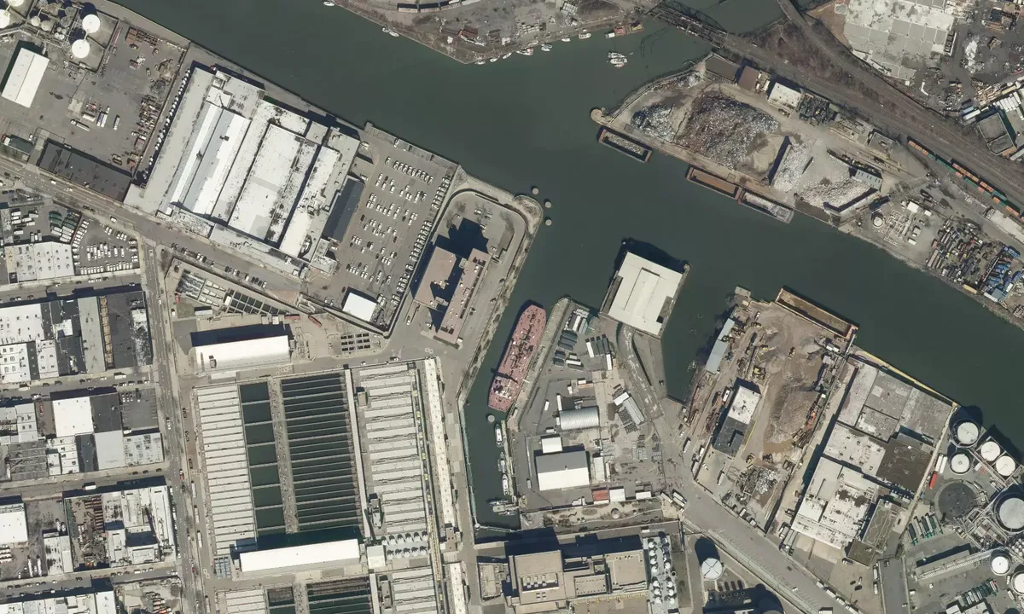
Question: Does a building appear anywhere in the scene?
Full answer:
Yes, I can see a building in this picture.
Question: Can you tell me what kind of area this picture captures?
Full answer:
This looks like a port.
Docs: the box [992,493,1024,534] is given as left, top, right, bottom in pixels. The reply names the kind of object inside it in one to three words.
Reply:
storage tank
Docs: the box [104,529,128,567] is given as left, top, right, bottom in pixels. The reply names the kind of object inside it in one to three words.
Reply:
building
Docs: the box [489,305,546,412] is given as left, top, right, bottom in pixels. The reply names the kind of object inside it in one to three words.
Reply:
ship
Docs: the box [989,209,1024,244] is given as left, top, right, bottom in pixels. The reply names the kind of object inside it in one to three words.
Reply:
shed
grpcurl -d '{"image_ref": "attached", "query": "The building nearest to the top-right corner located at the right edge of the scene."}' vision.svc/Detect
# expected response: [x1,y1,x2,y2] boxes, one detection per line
[977,113,1016,156]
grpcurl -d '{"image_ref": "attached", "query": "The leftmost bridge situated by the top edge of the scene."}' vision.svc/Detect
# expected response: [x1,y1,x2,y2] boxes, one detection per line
[643,0,736,60]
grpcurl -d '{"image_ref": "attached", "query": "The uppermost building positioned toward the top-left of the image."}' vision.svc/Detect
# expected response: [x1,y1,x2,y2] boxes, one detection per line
[2,47,50,108]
